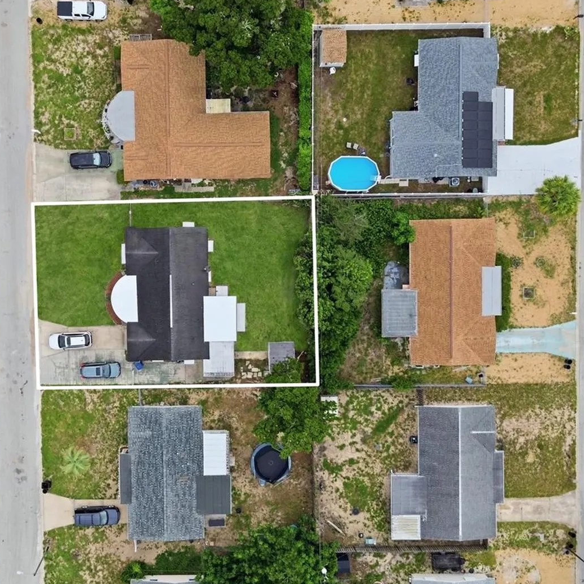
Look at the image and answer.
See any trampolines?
Yes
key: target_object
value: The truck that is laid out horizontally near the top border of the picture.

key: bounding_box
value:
[57,0,108,21]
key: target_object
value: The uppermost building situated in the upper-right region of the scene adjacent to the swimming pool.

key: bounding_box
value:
[388,34,512,180]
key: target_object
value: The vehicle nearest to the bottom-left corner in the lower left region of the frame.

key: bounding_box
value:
[73,506,121,528]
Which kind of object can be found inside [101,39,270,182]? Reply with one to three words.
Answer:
house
